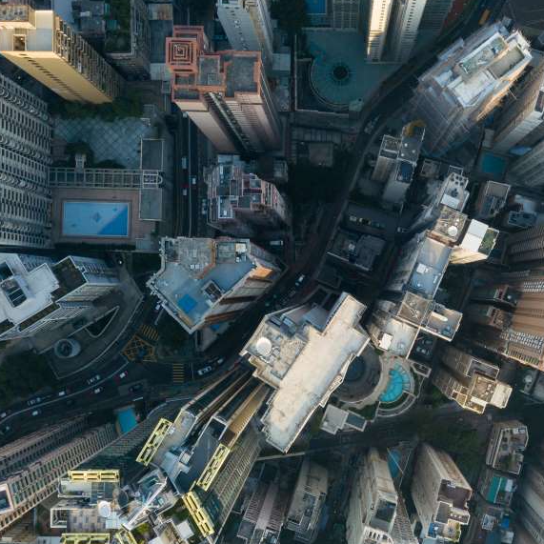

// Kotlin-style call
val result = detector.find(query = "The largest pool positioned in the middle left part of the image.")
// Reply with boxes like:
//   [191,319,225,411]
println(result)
[63,202,128,236]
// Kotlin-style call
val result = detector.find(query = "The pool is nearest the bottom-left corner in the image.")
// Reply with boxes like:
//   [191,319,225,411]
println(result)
[116,409,135,431]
